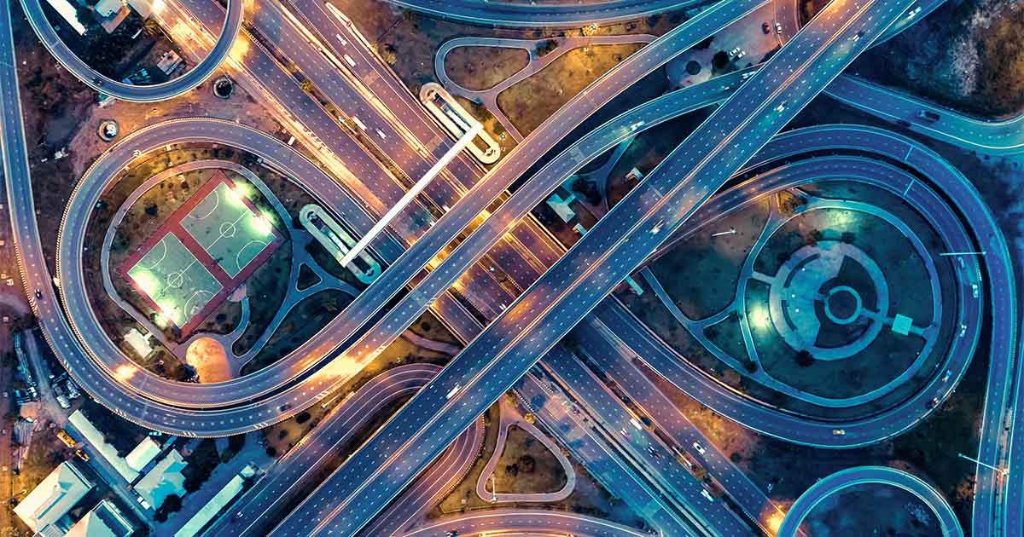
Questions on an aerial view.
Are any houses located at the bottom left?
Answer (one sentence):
Yes, there is a house at the bottom left.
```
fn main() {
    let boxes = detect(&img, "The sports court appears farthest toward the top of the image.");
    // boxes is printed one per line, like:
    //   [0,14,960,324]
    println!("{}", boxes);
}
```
[179,182,276,278]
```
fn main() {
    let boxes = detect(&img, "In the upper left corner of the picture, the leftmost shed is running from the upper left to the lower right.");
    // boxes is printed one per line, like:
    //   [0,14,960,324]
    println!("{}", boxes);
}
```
[51,0,90,38]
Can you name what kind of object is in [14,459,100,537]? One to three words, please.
building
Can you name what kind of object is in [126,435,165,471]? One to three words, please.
building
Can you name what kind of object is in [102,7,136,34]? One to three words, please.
house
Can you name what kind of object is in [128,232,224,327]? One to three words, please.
sports court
